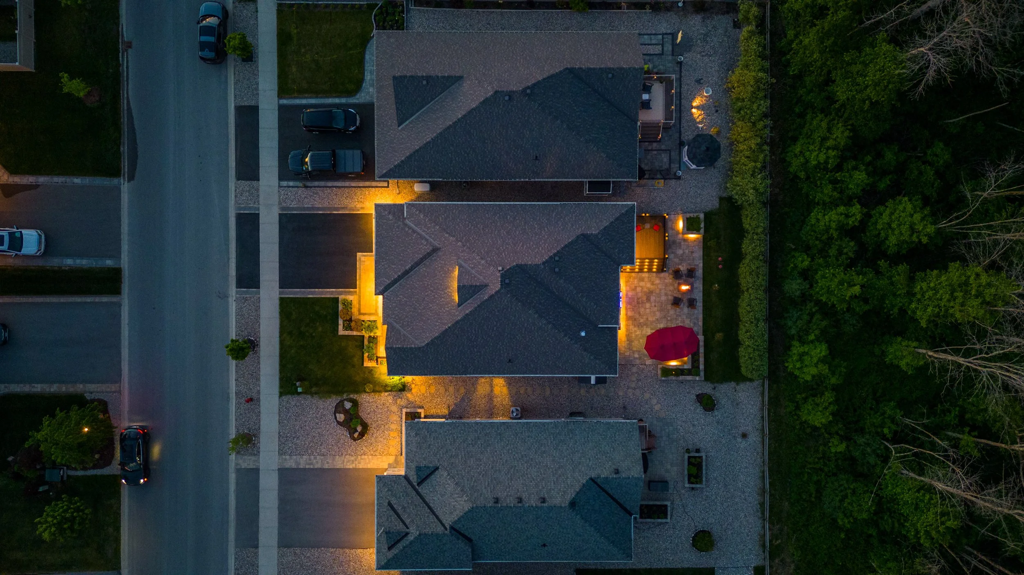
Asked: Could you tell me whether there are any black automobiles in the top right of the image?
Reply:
No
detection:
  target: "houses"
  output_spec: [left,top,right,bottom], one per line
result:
[373,29,645,182]
[374,419,645,572]
[373,202,637,384]
[0,0,34,73]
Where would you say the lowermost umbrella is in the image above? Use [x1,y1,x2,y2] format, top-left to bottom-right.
[644,326,699,362]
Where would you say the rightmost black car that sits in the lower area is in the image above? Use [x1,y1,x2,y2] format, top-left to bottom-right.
[117,426,150,487]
